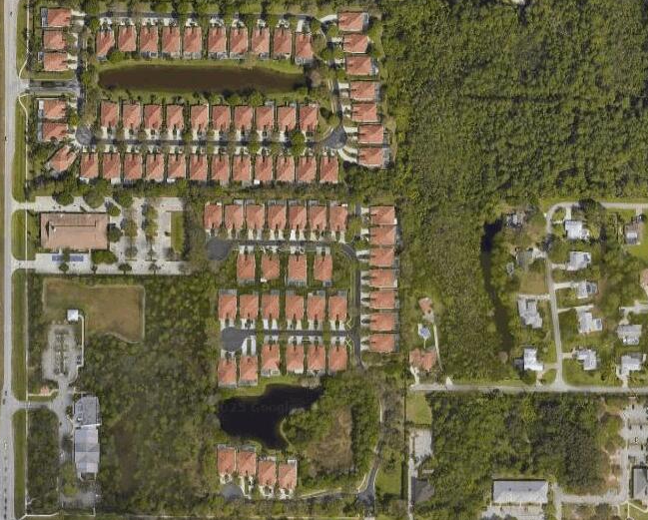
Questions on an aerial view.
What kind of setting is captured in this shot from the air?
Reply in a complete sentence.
This looks like a residential area.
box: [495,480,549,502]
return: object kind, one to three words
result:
building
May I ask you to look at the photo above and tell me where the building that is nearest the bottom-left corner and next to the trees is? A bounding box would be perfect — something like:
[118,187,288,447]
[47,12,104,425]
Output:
[73,426,99,479]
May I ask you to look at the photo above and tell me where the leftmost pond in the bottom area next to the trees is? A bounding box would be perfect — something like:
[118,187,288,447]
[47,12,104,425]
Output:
[220,384,324,449]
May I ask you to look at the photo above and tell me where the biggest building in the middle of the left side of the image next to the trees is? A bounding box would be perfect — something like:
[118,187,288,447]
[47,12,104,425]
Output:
[40,213,107,251]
